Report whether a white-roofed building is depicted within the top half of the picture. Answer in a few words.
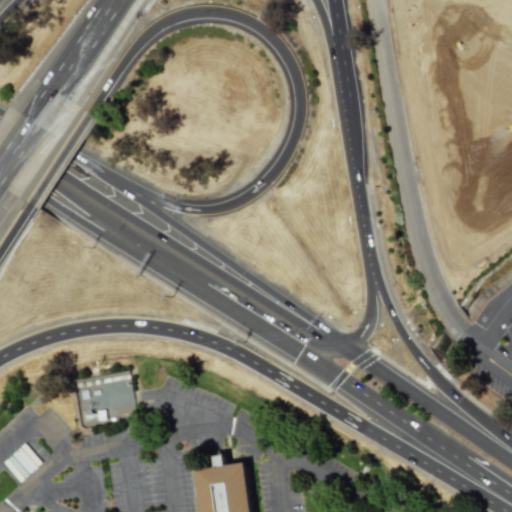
No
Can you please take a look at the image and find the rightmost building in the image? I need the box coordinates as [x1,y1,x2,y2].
[193,455,248,512]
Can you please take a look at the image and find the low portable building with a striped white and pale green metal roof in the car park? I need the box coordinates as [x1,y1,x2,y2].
[4,444,44,483]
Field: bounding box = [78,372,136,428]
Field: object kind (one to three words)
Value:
building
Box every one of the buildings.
[78,372,136,428]
[4,444,44,483]
[193,455,248,512]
